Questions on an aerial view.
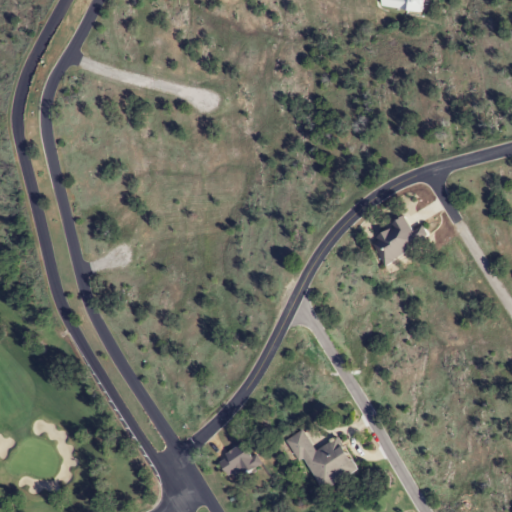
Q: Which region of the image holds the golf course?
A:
bottom left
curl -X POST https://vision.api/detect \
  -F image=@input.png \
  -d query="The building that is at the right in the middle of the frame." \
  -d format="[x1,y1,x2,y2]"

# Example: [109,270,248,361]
[377,215,430,265]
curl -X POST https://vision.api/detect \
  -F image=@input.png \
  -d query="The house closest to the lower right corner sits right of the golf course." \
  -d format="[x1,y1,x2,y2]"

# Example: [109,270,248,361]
[286,430,358,486]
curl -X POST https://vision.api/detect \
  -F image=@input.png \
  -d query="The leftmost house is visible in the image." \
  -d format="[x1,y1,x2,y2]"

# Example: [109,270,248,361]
[220,447,262,476]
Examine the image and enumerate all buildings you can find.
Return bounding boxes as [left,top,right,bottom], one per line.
[286,430,358,486]
[220,447,262,476]
[380,0,424,12]
[377,215,430,265]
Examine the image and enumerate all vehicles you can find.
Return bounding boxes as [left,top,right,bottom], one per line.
[354,445,364,456]
[350,438,356,447]
[210,442,218,452]
[372,432,380,442]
